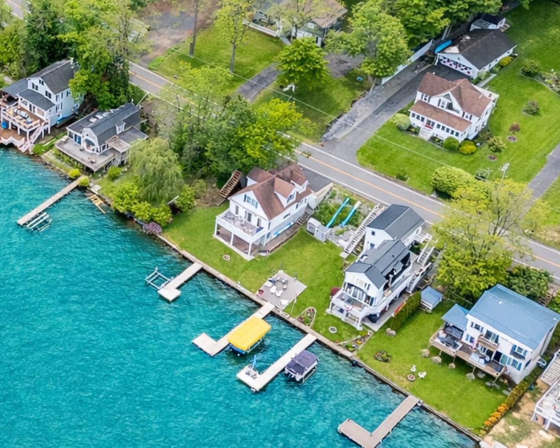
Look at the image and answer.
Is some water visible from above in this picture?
Yes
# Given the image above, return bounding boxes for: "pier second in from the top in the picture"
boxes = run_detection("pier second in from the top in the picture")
[157,263,203,305]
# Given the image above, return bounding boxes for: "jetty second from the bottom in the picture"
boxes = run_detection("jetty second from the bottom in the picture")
[235,335,317,395]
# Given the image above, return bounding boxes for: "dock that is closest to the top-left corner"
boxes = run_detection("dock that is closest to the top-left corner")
[17,181,79,229]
